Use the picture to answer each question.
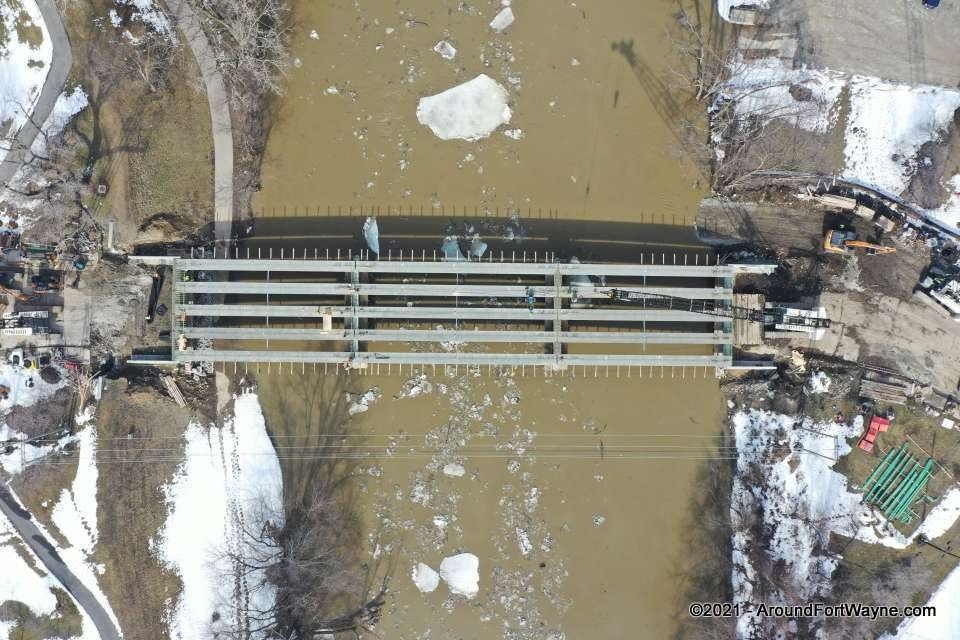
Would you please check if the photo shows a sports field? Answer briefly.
No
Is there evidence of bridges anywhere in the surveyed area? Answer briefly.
Yes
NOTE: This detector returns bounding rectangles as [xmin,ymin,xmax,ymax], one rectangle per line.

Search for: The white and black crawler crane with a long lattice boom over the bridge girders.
[565,288,848,340]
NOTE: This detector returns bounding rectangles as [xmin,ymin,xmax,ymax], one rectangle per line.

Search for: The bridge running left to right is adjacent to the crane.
[129,248,775,377]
